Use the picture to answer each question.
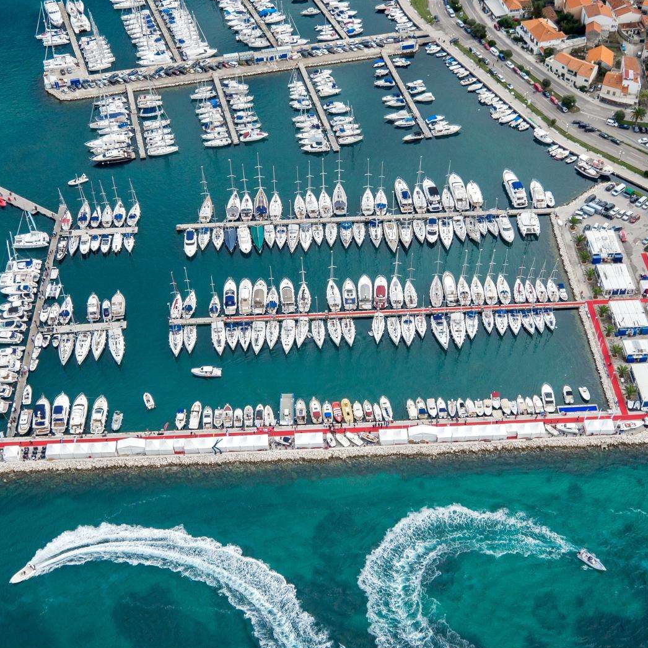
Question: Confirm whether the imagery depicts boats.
Yes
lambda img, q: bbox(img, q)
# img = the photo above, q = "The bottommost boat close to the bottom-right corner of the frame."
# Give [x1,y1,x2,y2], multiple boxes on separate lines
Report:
[577,550,605,570]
